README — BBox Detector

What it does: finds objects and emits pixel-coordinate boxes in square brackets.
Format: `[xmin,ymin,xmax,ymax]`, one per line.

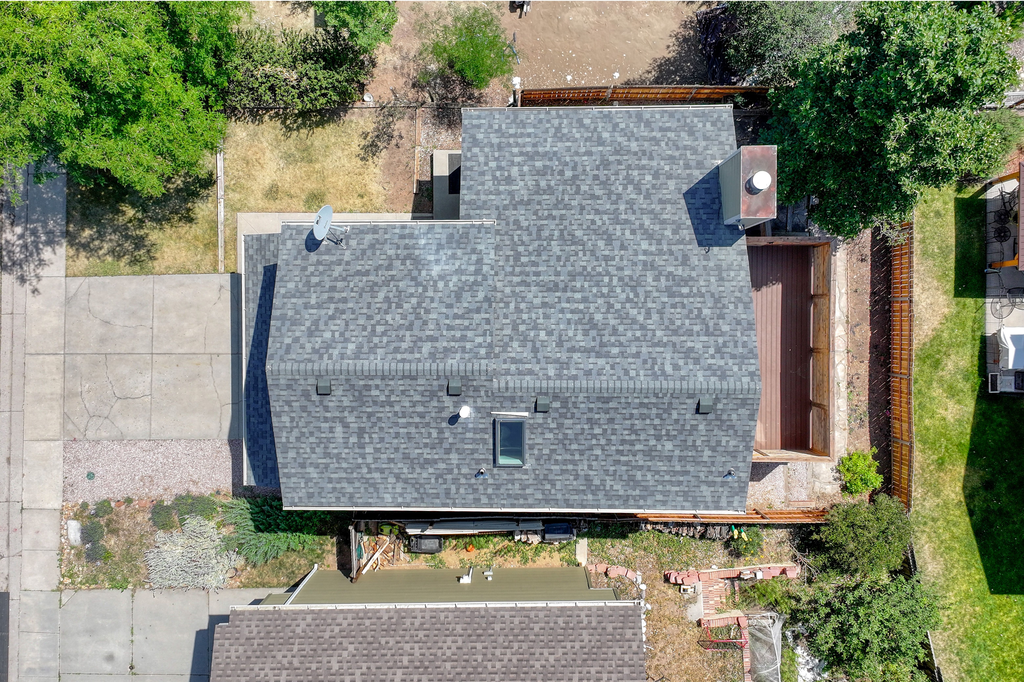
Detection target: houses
[202,564,646,682]
[241,103,777,515]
